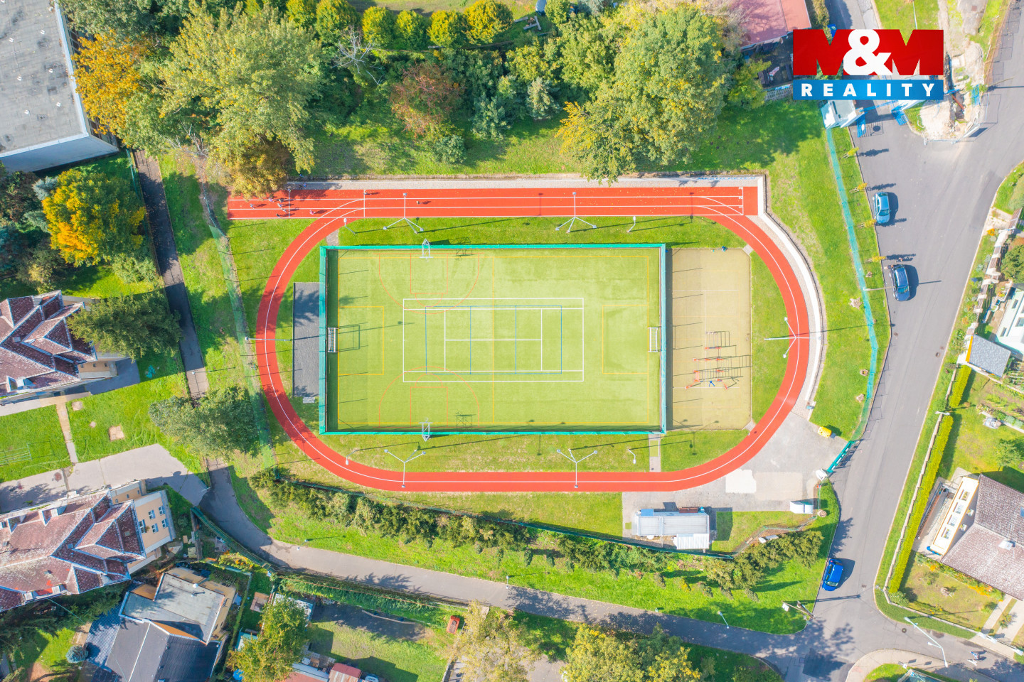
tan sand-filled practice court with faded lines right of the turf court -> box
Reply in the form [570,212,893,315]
[667,248,752,430]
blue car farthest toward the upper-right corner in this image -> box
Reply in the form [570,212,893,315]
[872,191,891,225]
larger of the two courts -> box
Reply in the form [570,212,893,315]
[327,248,661,431]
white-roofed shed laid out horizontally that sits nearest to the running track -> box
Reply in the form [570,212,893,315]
[632,509,709,537]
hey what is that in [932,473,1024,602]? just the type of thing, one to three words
house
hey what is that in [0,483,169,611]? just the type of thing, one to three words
house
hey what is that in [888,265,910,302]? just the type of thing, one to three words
car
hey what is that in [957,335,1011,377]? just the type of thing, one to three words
building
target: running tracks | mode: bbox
[227,186,809,492]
